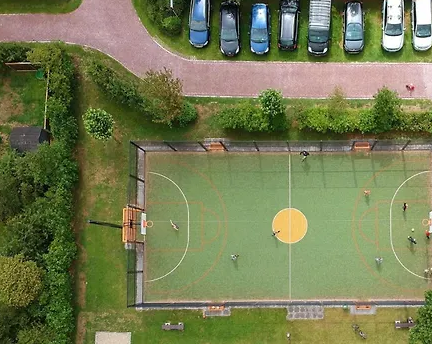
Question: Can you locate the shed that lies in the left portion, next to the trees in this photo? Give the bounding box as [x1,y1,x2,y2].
[0,122,47,150]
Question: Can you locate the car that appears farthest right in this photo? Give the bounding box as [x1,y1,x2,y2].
[410,1,432,52]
